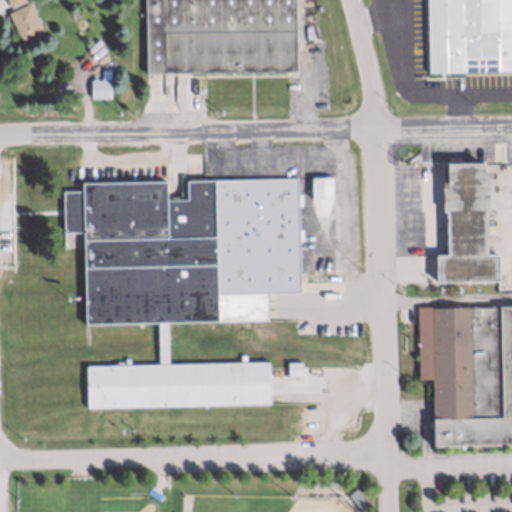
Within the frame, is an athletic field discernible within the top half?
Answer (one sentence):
No, no athletic field is visible within the top half.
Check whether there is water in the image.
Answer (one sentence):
No, the picture contains no water.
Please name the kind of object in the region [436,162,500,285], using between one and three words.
building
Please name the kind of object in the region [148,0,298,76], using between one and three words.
building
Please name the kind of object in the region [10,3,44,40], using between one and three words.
house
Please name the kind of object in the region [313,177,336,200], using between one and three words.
shed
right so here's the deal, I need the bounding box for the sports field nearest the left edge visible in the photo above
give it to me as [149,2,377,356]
[12,472,184,512]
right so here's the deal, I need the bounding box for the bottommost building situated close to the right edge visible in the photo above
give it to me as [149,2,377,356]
[419,306,512,446]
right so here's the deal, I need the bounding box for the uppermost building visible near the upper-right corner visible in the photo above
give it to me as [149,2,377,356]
[426,0,512,81]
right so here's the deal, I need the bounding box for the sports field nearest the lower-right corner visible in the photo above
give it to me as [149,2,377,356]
[169,470,377,512]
